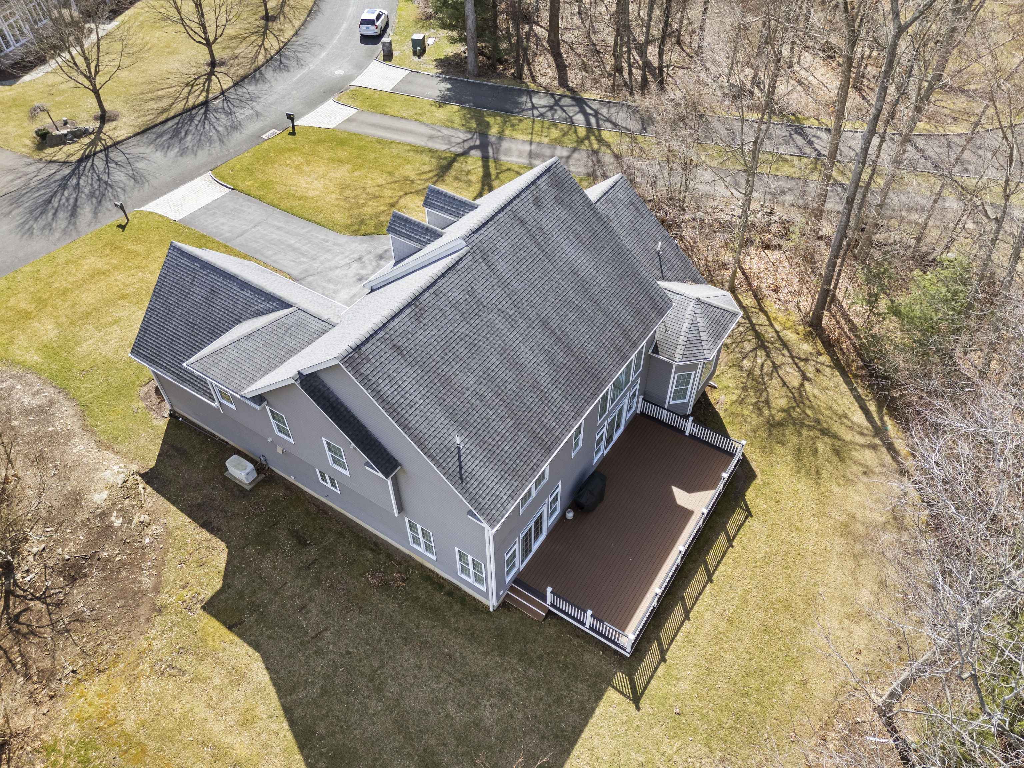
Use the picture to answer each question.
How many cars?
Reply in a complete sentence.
In total, there is 1 car in the scene.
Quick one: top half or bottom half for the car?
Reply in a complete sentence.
Seen from above, the car lies in the top half of the view.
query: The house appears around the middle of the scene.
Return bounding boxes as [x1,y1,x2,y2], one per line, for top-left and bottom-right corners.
[126,157,745,613]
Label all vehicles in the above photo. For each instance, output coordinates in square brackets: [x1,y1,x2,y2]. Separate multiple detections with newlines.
[359,9,391,39]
